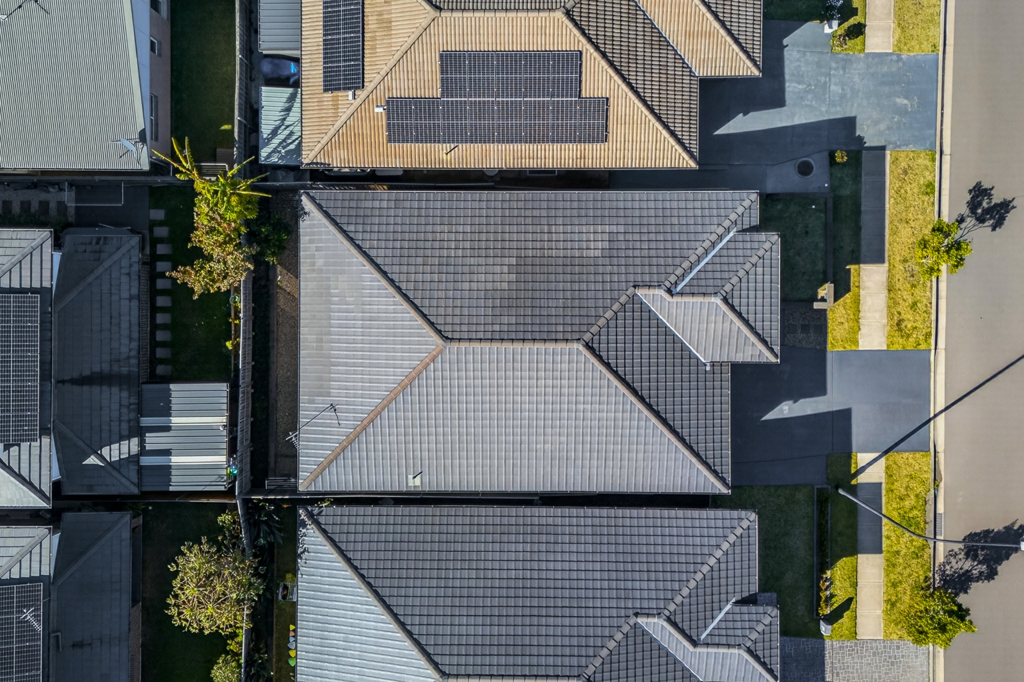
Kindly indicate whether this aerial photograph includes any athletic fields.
No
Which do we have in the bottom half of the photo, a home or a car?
home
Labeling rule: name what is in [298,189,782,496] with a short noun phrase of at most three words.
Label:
house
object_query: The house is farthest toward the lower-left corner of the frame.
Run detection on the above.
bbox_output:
[0,508,152,682]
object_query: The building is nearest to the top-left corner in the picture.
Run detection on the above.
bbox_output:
[0,0,171,172]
